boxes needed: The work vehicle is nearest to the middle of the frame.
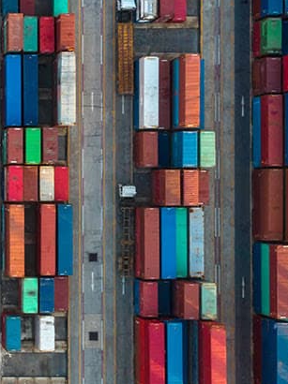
[117,181,135,214]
